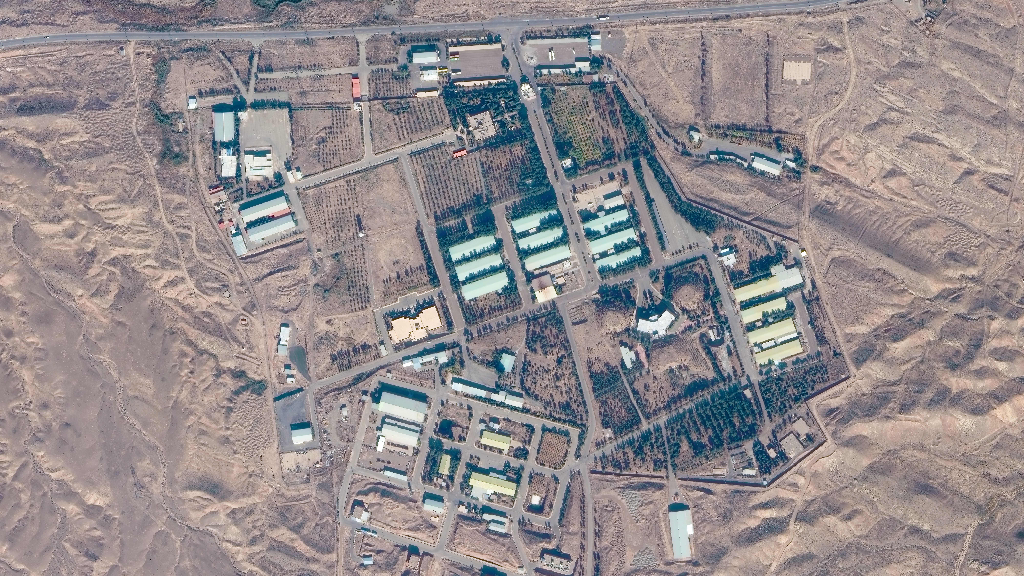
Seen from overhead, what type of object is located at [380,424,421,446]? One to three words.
building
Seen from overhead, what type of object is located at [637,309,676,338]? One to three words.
building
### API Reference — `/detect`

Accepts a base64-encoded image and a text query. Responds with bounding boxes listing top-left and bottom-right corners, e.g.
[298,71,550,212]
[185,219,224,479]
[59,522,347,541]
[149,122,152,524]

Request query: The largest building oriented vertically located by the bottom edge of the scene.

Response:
[670,510,692,559]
